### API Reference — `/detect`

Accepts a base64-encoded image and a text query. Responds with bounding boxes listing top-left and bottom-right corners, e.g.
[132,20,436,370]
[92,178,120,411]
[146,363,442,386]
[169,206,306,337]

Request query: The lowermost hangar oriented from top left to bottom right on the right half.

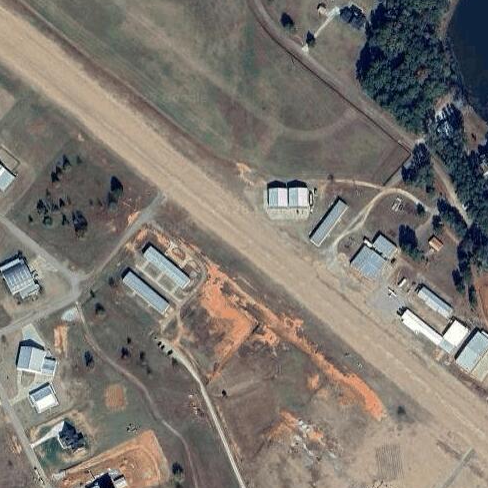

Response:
[402,310,442,346]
